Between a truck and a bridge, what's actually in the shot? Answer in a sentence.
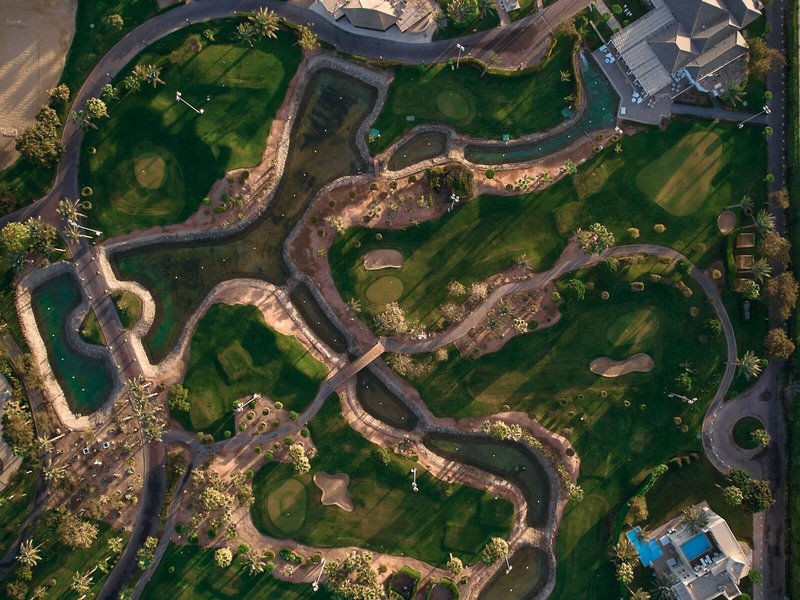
Of the two, only a bridge appears.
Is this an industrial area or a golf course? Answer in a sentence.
The area seen from above is a golf course.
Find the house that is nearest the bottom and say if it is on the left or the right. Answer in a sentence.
You can find the house that is nearest the bottom on the right side of the picture.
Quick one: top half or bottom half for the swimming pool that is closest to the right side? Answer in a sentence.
The bottom half of the photo is where the swimming pool that is closest to the right side is.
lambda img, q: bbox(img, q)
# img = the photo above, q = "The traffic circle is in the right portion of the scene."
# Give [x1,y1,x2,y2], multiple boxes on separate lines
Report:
[731,416,766,451]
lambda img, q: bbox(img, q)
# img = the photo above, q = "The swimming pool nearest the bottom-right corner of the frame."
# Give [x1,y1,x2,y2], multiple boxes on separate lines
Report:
[680,532,712,562]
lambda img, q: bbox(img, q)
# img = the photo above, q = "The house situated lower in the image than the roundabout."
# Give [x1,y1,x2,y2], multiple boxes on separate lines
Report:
[659,502,752,600]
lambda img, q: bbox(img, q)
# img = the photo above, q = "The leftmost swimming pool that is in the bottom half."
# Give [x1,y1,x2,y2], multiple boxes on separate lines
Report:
[626,527,664,568]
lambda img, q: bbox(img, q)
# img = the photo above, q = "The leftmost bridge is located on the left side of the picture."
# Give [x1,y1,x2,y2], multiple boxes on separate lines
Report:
[76,260,141,380]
